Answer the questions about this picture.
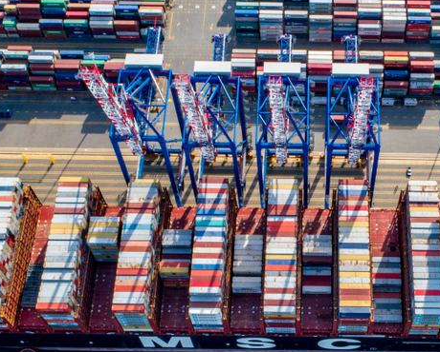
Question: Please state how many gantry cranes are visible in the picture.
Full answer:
The picture shows 4 gantry cranes.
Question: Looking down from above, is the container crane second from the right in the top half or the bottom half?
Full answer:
The top half of the photo is where the container crane second from the right is.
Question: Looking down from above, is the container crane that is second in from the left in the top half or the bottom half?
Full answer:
The container crane that is second in from the left is in the top half of the image.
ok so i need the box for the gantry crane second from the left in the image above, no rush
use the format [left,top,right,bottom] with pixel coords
[172,35,252,208]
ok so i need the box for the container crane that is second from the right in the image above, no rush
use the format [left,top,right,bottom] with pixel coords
[255,36,312,209]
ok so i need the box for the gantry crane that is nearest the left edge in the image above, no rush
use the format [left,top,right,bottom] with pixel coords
[79,34,189,207]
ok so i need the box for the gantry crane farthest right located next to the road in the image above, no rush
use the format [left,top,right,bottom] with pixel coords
[322,37,380,209]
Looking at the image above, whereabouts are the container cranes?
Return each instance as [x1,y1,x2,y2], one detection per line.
[172,35,252,208]
[255,36,312,209]
[322,37,380,209]
[79,34,189,207]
